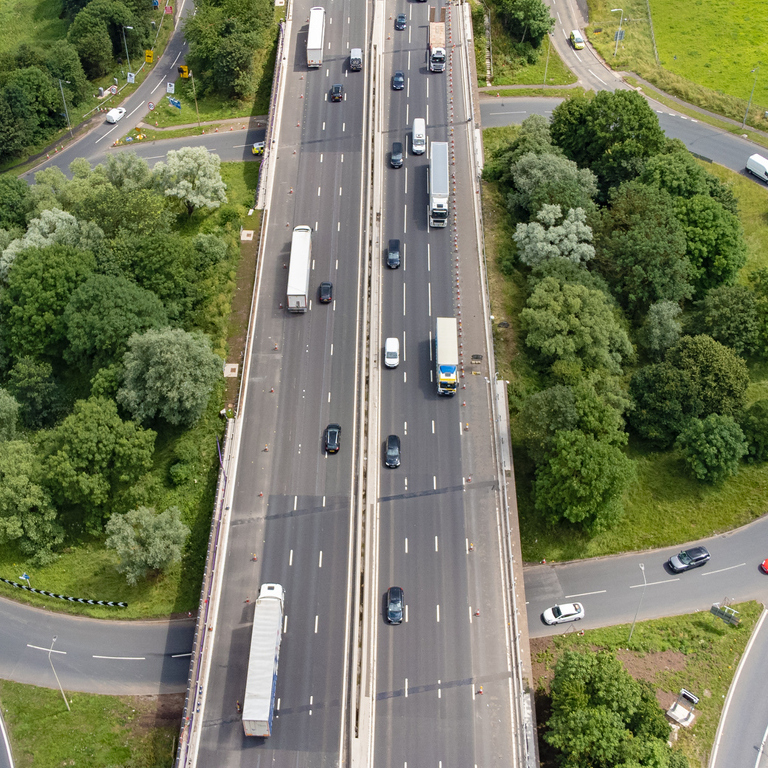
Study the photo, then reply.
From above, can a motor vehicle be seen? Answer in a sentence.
Yes, a motor vehicle appears in the view.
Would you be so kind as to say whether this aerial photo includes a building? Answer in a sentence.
No, I can see no building in this picture.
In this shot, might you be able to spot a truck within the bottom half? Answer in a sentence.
Yes, a truck appears within the bottom half.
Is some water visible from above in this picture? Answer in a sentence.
No, the scene doesn't show any water.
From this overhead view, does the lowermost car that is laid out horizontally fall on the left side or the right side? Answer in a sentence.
The lowermost car that is laid out horizontally is on the right side of the image.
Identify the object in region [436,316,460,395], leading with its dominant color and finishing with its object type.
white truck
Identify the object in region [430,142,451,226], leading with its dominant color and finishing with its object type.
white truck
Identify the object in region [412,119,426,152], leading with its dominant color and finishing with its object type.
white vehicle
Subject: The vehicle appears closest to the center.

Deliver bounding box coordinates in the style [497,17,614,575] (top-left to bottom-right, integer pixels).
[384,337,400,368]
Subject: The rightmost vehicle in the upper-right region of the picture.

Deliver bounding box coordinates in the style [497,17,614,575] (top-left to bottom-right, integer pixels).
[740,157,768,185]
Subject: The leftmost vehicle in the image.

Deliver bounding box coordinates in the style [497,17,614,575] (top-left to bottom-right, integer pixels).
[104,105,129,122]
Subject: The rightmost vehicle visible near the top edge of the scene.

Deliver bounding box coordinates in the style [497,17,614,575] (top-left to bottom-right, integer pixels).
[568,30,586,50]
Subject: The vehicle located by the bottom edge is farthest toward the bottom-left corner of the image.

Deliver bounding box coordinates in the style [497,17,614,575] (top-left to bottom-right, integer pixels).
[242,584,284,735]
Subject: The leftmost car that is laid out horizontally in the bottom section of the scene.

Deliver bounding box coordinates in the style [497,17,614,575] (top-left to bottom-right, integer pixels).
[543,601,584,620]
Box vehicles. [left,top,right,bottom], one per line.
[430,4,448,71]
[384,436,403,469]
[412,119,426,152]
[325,425,343,454]
[669,544,711,571]
[319,281,334,305]
[307,6,327,66]
[331,86,344,103]
[430,142,451,226]
[386,238,402,268]
[543,601,584,620]
[392,74,405,91]
[740,157,768,185]
[436,316,460,395]
[104,105,129,122]
[385,587,405,626]
[568,30,586,50]
[395,15,406,31]
[287,224,314,313]
[760,558,768,572]
[390,142,404,167]
[384,337,400,368]
[242,584,284,735]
